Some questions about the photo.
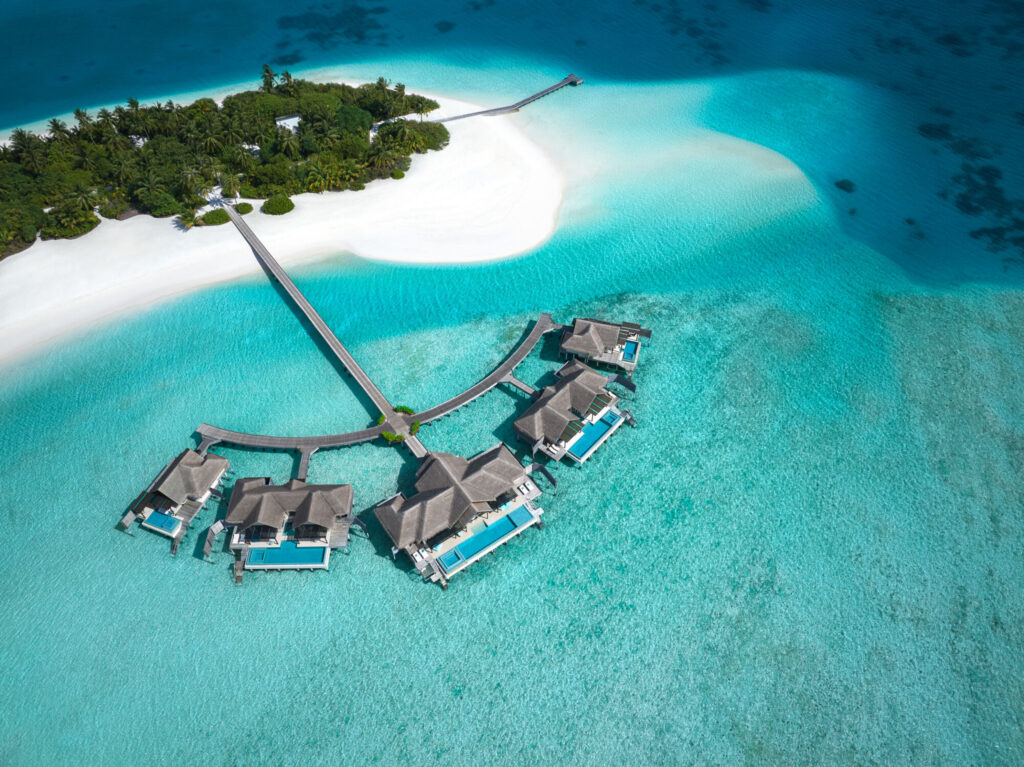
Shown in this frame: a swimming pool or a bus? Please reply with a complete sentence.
There is a swimming pool in the scene.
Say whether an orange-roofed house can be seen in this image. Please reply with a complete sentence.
No, there isn't any orange-roofed house down there.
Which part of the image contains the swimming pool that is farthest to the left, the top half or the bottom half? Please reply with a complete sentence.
It is in the bottom half that the swimming pool that is farthest to the left appears.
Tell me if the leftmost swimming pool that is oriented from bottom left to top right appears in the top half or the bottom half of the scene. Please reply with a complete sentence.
Seen from above, the leftmost swimming pool that is oriented from bottom left to top right lies in the bottom half of the view.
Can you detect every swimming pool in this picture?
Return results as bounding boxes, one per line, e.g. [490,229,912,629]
[142,510,187,540]
[244,541,331,569]
[435,504,538,578]
[567,409,623,464]
[622,340,642,367]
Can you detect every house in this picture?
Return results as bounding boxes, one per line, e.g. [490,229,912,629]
[562,317,651,380]
[120,447,234,560]
[375,441,557,595]
[203,473,372,586]
[512,361,637,468]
